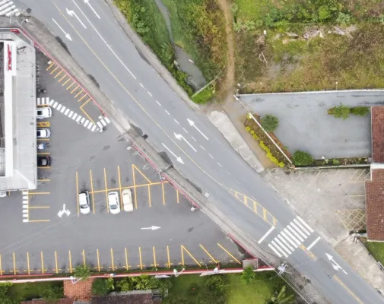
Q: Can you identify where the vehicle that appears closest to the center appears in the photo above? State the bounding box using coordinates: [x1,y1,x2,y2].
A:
[122,189,135,211]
